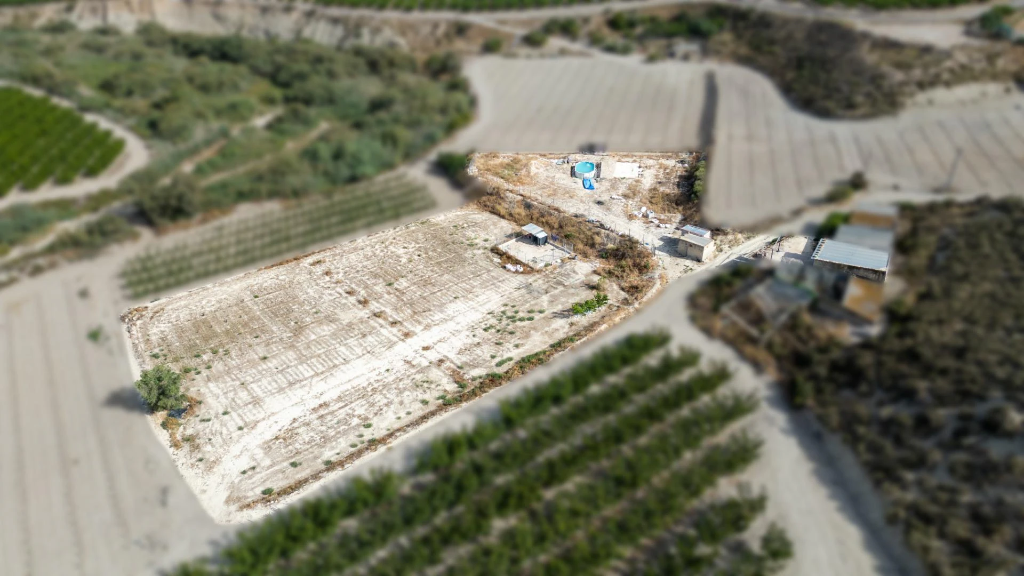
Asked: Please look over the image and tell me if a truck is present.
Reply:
No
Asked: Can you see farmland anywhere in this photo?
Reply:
Yes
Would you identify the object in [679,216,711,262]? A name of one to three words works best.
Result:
shed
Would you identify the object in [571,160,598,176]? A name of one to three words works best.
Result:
swimming pool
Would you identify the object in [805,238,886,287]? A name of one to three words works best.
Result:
shed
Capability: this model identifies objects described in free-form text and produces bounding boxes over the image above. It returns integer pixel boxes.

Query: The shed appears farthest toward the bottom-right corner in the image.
[840,284,898,332]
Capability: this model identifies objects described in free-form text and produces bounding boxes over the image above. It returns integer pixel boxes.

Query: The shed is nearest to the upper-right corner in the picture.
[847,198,896,230]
